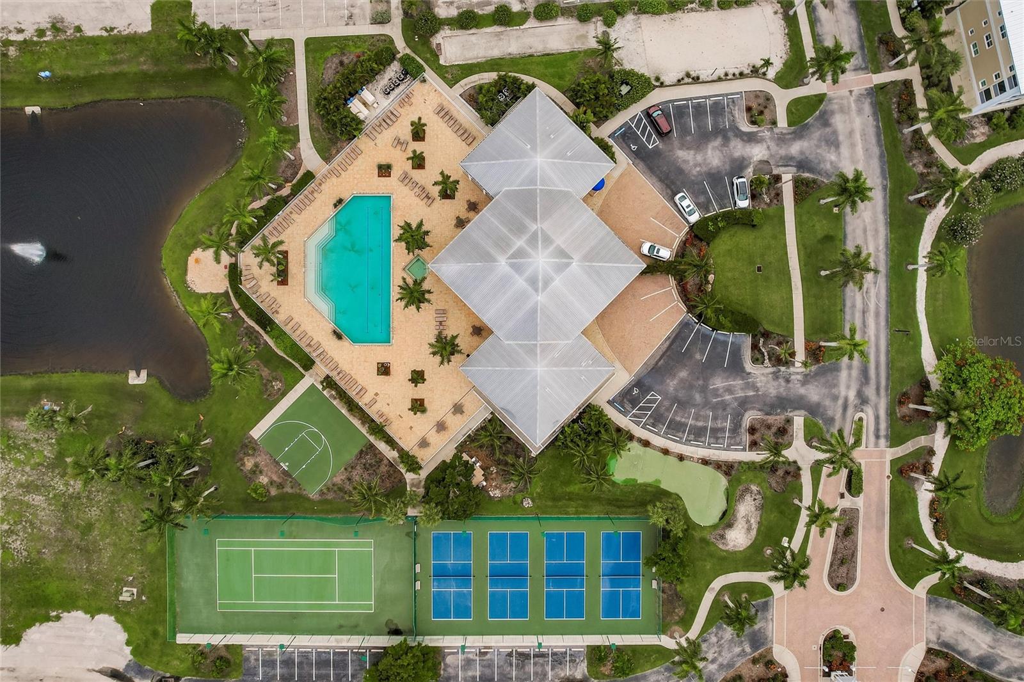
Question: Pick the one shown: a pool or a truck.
pool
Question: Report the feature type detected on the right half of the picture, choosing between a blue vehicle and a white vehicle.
white vehicle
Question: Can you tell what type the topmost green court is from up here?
basketball court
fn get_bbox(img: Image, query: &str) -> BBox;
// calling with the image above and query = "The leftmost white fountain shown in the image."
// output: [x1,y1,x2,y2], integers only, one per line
[12,242,49,259]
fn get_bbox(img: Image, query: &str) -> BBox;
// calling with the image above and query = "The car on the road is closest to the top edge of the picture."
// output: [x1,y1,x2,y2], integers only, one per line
[647,105,671,137]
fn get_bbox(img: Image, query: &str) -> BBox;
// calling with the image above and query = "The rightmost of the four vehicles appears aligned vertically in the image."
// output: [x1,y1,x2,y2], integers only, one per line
[732,176,750,209]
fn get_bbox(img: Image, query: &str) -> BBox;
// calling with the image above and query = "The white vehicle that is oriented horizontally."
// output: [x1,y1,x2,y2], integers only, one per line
[639,241,672,260]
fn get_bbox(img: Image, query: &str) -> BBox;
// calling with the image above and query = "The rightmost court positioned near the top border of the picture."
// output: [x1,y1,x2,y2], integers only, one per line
[611,0,789,86]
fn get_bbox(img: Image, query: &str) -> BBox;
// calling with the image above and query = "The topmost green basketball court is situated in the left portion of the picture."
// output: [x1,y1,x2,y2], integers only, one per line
[258,385,370,495]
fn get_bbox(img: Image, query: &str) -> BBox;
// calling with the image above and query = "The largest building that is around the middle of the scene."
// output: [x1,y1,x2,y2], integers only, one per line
[428,87,646,456]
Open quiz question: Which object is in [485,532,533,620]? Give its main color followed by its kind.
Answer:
blue sports court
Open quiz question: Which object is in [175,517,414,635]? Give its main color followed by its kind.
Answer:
green tennis court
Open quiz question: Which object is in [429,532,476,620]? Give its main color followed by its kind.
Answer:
blue sports court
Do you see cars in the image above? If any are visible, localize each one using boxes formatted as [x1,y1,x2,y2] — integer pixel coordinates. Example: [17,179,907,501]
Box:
[639,241,672,260]
[732,176,750,209]
[647,105,671,137]
[675,191,700,223]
